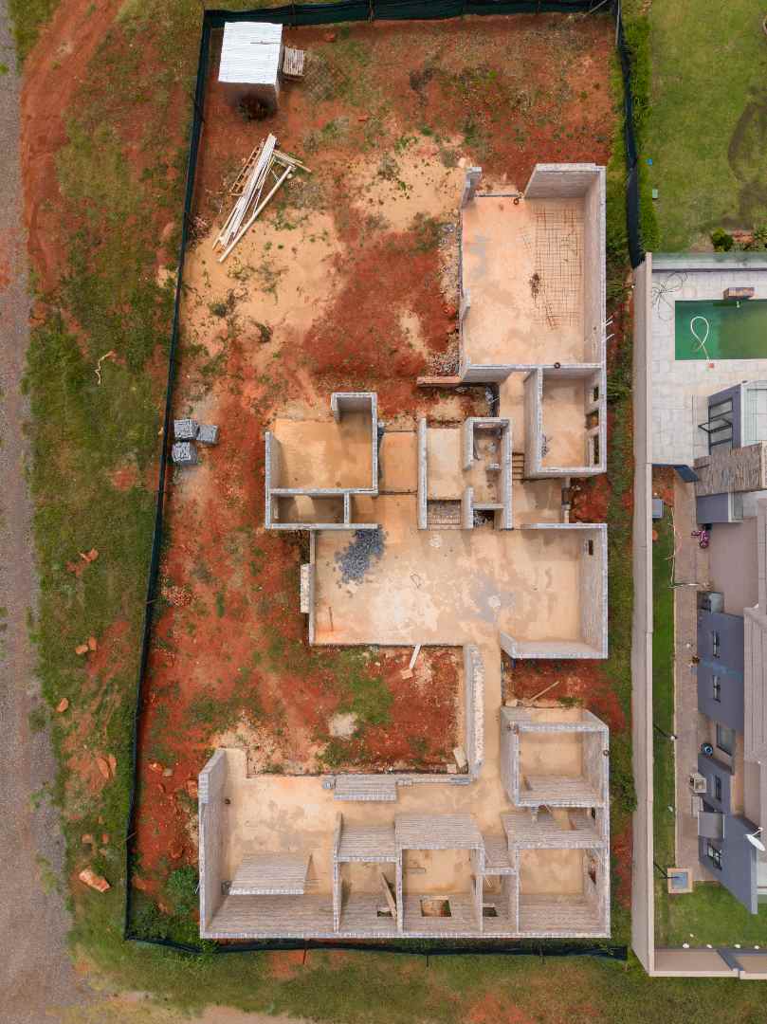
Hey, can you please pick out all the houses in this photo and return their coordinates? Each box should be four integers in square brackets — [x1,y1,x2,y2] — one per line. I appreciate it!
[199,164,610,939]
[696,384,767,919]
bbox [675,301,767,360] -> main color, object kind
green swimming pool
